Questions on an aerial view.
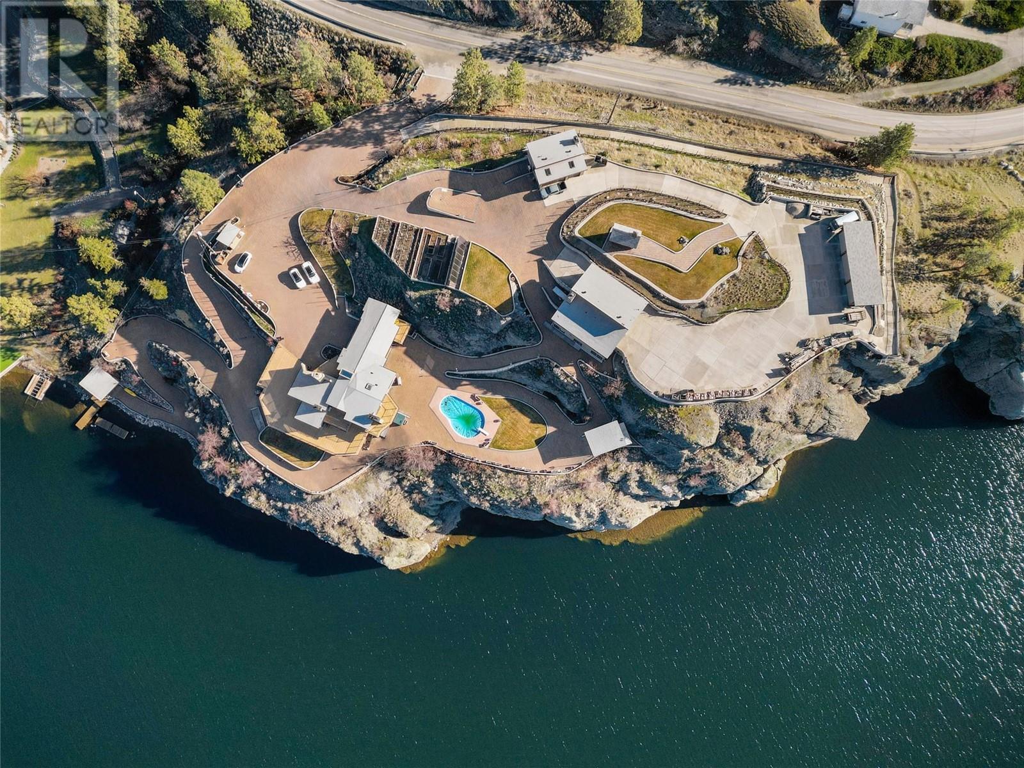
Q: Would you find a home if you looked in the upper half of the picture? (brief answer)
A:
Yes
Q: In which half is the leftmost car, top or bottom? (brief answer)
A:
top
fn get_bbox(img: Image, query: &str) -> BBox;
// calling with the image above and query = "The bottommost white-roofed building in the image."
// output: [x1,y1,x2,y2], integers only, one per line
[584,421,632,456]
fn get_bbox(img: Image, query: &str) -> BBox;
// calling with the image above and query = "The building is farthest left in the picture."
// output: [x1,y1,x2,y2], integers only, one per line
[79,366,124,401]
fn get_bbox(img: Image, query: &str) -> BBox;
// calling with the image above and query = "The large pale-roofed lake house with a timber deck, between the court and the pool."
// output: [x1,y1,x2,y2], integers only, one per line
[256,297,411,456]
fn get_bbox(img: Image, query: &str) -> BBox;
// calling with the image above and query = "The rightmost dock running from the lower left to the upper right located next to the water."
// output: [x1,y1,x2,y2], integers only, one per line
[69,398,108,431]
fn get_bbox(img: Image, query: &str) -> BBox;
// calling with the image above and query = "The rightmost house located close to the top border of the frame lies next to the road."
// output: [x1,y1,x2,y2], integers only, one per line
[852,0,929,44]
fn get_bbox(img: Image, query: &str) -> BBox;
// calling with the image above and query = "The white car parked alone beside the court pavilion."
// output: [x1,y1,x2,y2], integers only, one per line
[231,250,252,274]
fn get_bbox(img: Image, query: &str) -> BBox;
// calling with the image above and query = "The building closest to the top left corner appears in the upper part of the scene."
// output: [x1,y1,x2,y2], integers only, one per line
[216,222,247,251]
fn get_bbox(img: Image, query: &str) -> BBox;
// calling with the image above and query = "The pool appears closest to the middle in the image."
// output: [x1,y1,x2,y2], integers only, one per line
[429,391,502,447]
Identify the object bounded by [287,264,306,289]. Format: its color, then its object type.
white car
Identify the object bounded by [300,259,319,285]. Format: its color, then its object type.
white car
